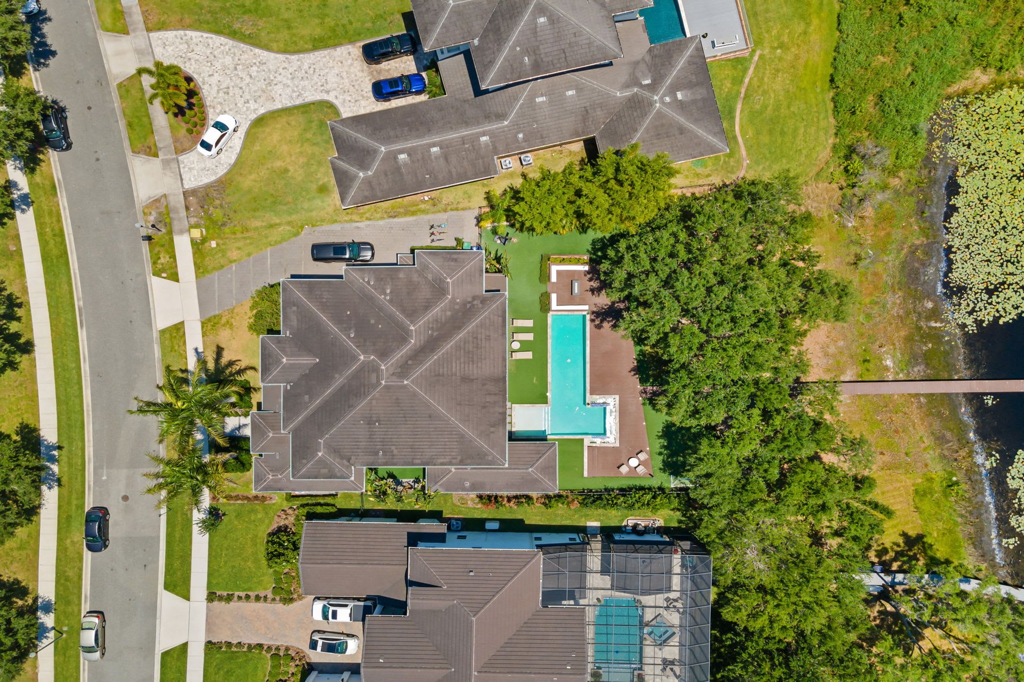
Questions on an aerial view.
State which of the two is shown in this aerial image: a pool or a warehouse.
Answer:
pool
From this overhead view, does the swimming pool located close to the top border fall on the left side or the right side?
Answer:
right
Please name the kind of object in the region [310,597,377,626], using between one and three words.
truck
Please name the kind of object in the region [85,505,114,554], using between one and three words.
car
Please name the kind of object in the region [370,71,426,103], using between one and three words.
car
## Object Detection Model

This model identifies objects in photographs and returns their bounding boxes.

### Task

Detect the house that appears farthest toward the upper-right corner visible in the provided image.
[327,0,730,211]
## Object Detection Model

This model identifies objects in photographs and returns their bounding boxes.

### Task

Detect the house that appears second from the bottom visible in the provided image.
[250,249,559,494]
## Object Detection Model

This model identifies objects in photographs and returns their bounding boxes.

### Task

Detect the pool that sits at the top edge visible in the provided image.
[643,0,695,44]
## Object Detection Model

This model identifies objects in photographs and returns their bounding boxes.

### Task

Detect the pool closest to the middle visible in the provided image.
[512,312,619,477]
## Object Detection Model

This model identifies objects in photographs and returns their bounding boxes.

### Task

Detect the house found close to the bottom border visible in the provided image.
[298,515,682,682]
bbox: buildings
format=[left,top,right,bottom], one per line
[298,515,682,682]
[250,249,559,494]
[327,0,730,211]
